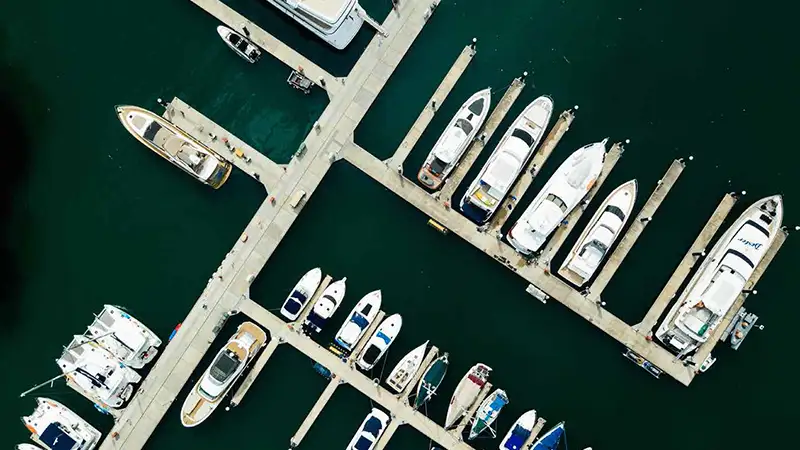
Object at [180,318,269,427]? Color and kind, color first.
white boat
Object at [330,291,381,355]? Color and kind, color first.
white boat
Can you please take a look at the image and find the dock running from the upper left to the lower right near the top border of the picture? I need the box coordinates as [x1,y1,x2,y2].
[189,0,348,102]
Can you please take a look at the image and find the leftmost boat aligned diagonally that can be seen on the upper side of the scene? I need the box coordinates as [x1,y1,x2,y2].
[115,105,234,189]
